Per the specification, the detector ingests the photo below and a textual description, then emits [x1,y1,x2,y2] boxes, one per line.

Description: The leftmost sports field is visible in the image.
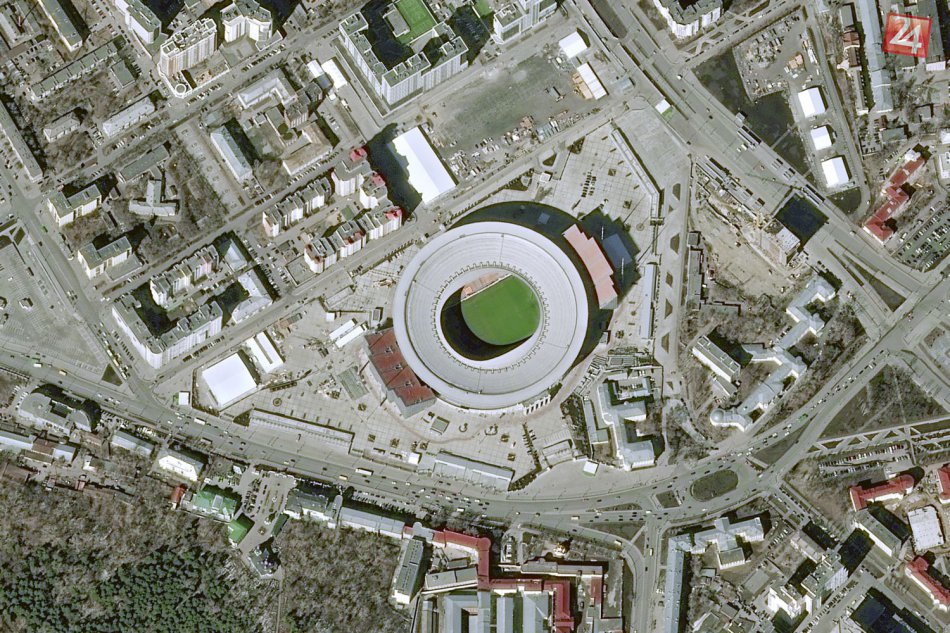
[392,0,436,45]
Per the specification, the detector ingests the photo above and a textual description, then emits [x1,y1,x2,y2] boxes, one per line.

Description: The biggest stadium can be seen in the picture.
[392,222,588,420]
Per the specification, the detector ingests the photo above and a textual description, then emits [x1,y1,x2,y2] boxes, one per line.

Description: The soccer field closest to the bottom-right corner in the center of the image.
[443,278,539,359]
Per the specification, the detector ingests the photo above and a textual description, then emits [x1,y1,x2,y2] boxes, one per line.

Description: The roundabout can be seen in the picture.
[691,469,738,502]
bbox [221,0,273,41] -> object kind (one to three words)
building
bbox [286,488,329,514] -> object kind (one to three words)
building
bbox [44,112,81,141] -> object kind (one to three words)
house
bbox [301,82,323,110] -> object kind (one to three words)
house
